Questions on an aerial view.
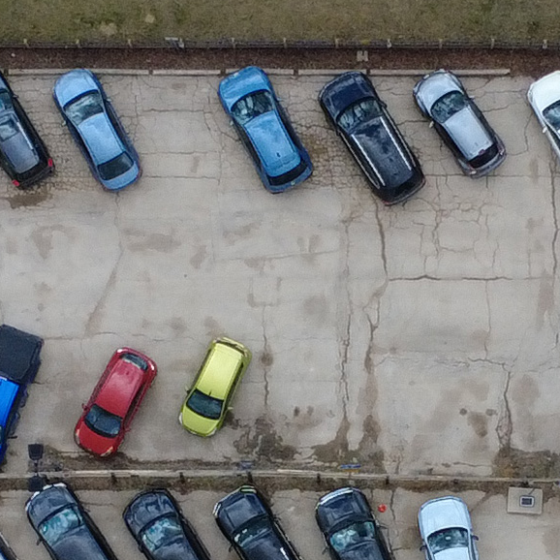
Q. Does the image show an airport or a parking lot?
parking lot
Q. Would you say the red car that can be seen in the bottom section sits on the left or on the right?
left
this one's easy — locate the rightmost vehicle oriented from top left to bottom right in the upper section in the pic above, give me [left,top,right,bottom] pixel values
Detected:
[418,68,505,178]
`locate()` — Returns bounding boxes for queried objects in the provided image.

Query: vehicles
[418,495,482,560]
[0,66,57,191]
[55,67,144,195]
[418,68,505,178]
[0,324,48,469]
[212,485,302,560]
[530,69,560,161]
[76,348,159,455]
[320,69,425,209]
[26,484,122,560]
[177,337,251,436]
[220,67,311,195]
[315,488,396,560]
[124,488,214,560]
